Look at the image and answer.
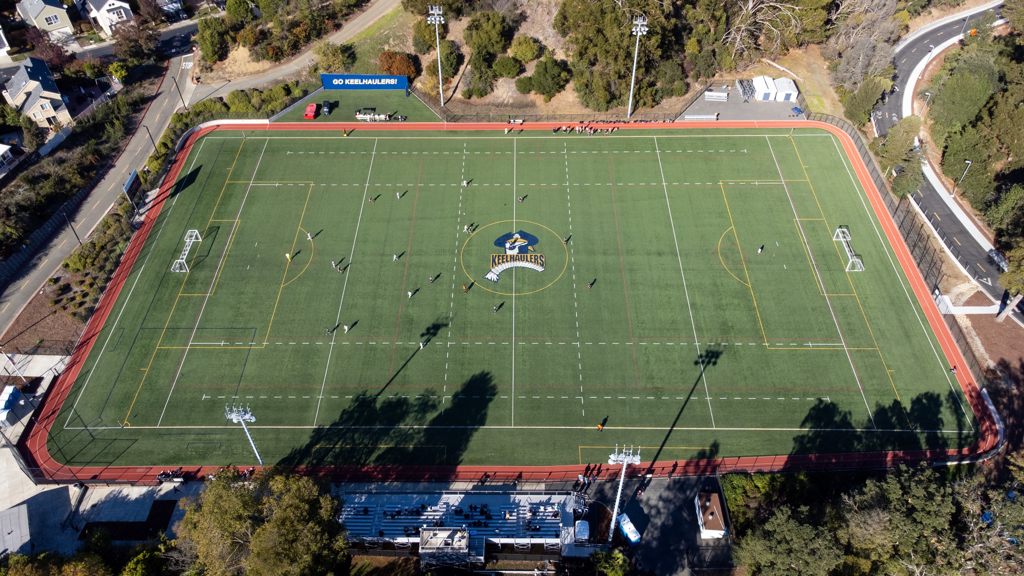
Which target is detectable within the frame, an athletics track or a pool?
athletics track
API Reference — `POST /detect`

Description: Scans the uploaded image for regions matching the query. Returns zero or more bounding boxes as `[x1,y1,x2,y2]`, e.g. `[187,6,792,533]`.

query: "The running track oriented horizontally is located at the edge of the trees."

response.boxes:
[22,120,998,483]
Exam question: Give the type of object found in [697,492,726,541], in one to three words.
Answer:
shed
